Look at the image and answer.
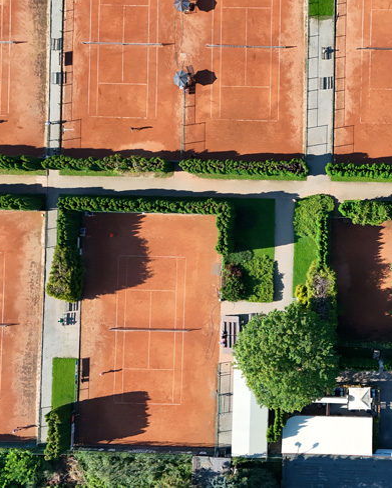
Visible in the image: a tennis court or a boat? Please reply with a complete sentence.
I can see a tennis court in this picture.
